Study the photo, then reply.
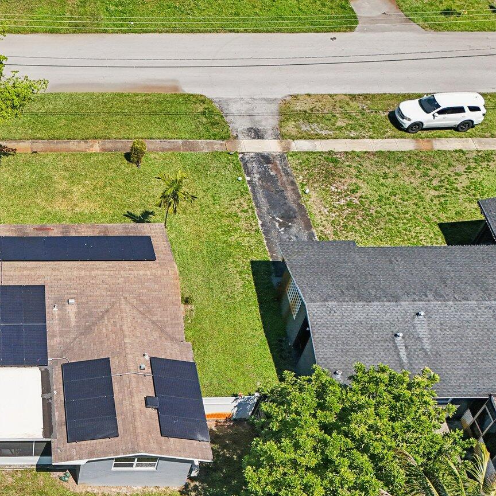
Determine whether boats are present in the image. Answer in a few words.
No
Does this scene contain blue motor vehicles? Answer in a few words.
No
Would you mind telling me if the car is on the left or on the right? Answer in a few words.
right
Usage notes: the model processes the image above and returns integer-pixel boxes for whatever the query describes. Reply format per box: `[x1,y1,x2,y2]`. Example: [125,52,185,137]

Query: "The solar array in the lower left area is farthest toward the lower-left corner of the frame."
[62,358,118,442]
